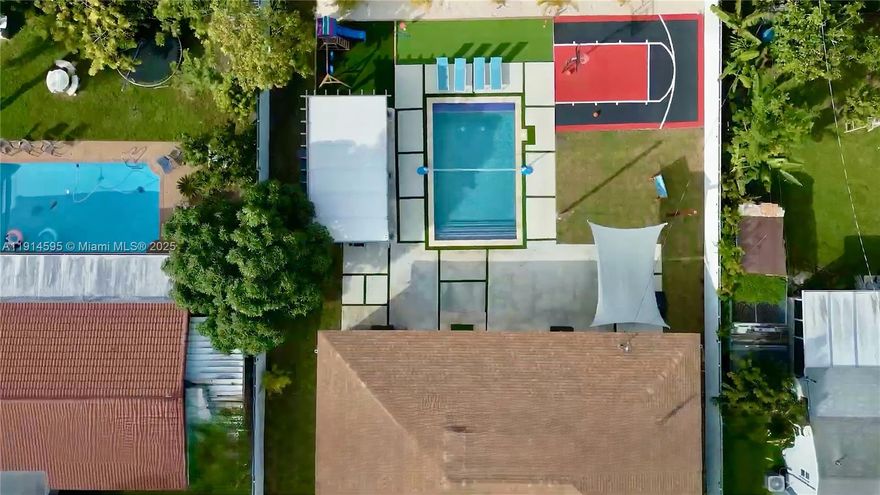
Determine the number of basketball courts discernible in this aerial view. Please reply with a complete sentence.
In total, there is 1 basketball court in the scene.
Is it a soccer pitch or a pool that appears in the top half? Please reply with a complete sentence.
It is a pool that can be seen in the top half.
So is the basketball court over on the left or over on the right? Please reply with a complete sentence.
The basketball court appears in the right half of the scene.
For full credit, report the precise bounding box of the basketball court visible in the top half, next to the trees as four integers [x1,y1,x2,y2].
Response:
[554,16,705,131]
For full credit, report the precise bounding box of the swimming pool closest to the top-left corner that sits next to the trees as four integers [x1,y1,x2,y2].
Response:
[0,141,188,252]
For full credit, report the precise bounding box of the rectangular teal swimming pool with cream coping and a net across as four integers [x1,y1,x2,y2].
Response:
[429,96,528,246]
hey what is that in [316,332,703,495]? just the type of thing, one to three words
house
